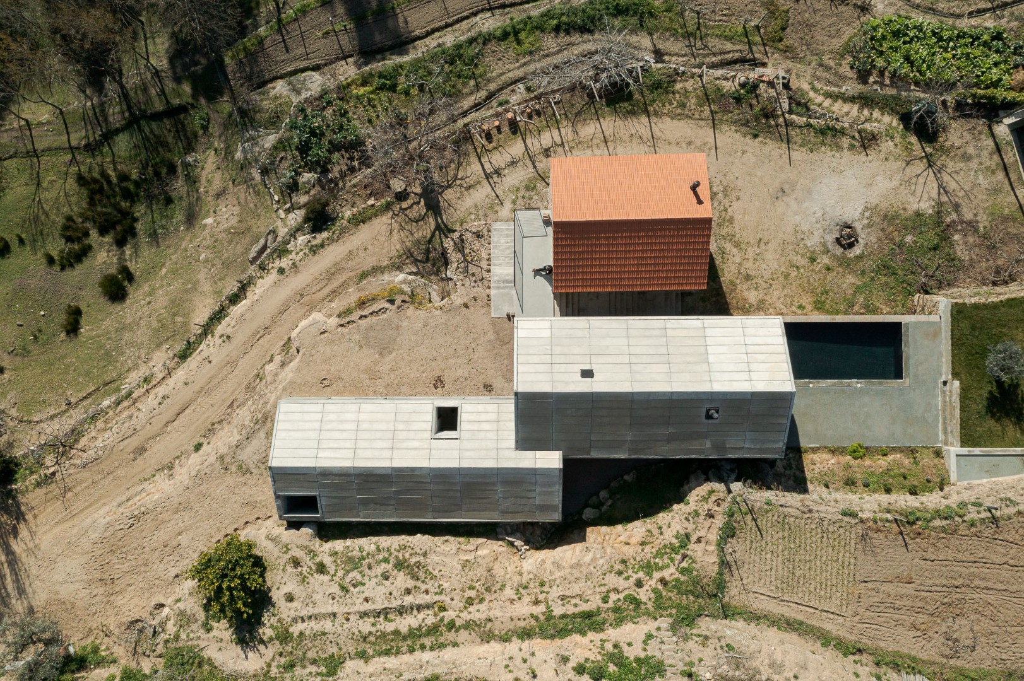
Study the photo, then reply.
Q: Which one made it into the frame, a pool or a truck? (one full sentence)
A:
I can see a pool in this picture.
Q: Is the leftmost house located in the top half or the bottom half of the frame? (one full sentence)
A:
Seen from above, the leftmost house lies in the bottom half of the view.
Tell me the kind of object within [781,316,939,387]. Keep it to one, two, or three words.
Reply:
swimming pool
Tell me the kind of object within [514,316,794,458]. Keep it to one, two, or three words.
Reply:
house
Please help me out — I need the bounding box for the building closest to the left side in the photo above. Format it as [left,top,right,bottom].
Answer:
[269,393,563,523]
